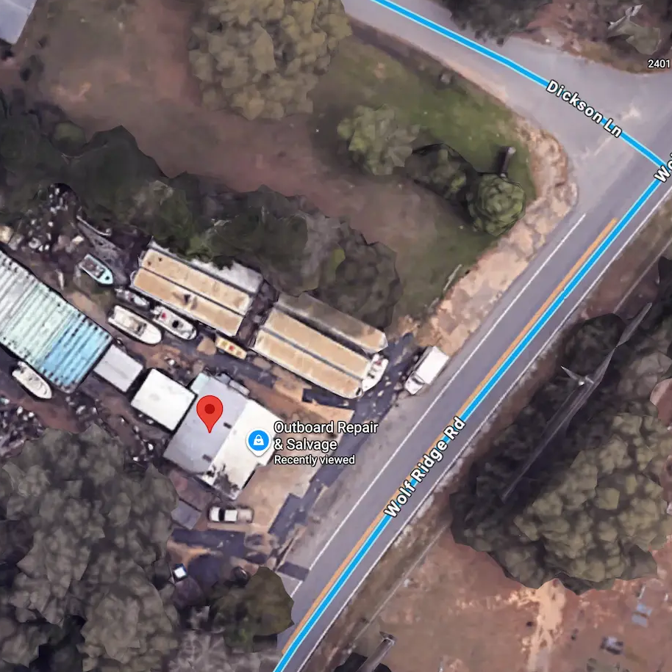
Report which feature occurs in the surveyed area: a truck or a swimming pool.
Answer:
truck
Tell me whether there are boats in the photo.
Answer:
Yes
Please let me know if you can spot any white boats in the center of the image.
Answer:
Yes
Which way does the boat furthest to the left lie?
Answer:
at an angle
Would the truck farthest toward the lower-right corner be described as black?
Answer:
No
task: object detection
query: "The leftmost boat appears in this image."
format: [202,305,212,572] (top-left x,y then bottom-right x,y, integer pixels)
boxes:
[9,362,53,399]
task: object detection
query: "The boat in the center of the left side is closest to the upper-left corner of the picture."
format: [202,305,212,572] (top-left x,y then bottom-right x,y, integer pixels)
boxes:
[78,254,114,284]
